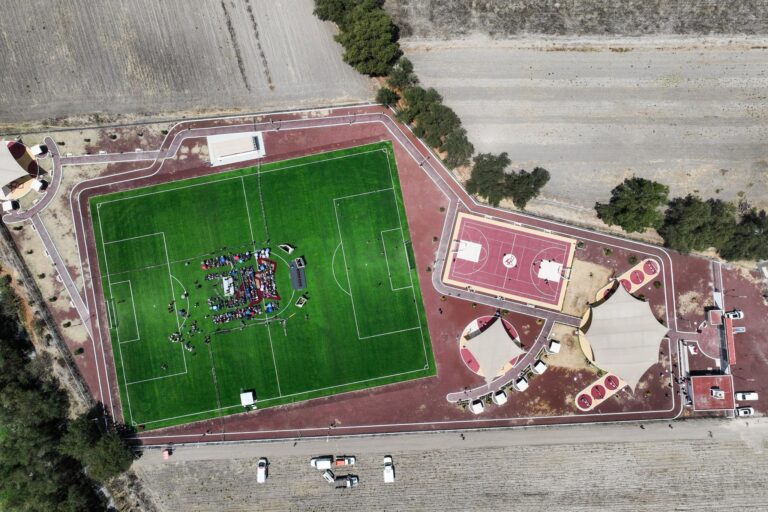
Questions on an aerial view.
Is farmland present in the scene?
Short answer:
Yes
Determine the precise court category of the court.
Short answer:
basketball court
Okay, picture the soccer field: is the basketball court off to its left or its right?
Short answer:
right of it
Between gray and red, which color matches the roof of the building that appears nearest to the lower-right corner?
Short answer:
red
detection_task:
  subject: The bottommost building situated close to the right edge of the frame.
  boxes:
[688,375,734,411]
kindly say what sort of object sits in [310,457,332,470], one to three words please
vehicle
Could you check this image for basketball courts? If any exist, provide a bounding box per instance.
[442,213,577,311]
